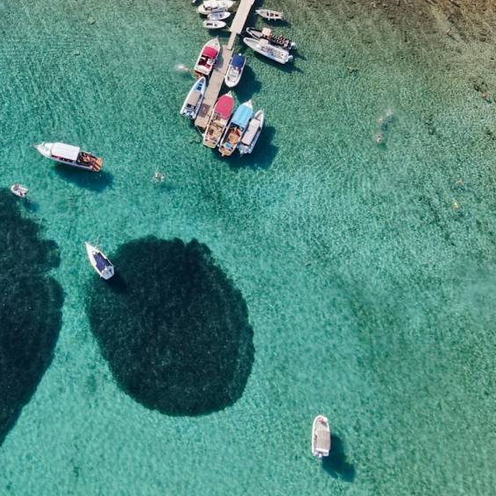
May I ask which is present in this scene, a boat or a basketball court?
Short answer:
boat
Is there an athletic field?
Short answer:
No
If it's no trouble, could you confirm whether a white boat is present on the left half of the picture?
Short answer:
Yes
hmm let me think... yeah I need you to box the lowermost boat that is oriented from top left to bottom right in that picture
[85,236,112,277]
